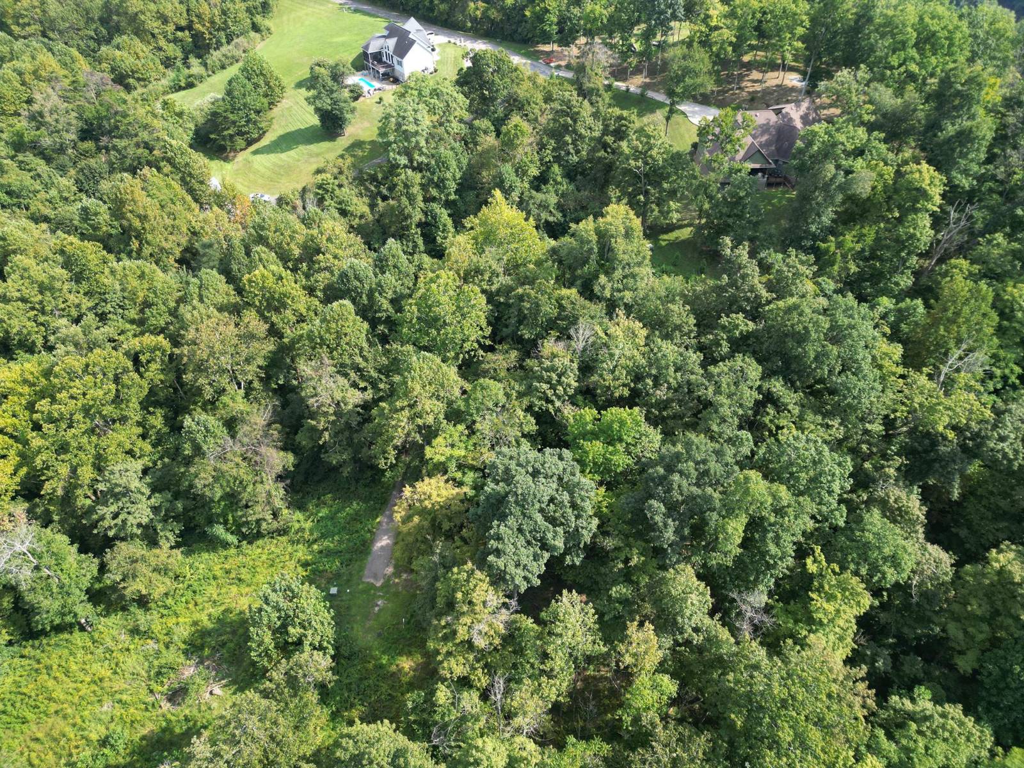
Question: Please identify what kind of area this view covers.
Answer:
forest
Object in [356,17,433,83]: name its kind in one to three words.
house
